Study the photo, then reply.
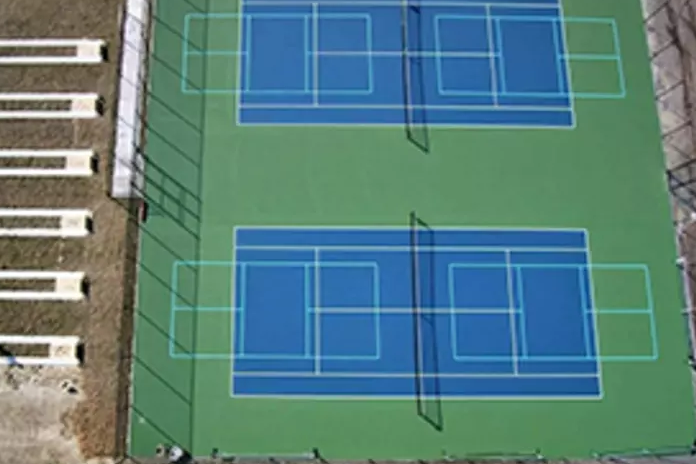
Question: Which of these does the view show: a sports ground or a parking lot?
sports ground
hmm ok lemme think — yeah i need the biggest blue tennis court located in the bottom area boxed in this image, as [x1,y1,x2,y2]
[232,227,604,398]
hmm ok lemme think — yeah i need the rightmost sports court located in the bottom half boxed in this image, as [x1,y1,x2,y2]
[448,264,660,359]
